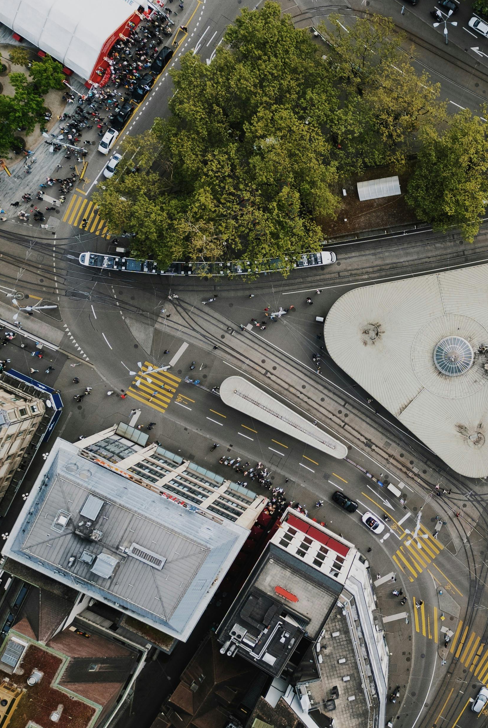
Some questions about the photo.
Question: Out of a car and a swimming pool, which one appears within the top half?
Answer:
car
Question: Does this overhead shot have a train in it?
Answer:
Yes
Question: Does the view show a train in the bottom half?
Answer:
No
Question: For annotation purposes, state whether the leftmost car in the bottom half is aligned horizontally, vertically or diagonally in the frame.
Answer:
diagonally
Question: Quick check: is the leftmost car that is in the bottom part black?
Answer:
Yes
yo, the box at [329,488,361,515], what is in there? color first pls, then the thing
black car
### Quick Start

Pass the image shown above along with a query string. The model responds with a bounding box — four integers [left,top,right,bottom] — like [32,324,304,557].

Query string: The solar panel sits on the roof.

[0,639,26,668]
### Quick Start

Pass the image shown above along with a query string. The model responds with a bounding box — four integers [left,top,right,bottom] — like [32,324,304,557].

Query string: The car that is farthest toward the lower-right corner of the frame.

[469,684,488,715]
